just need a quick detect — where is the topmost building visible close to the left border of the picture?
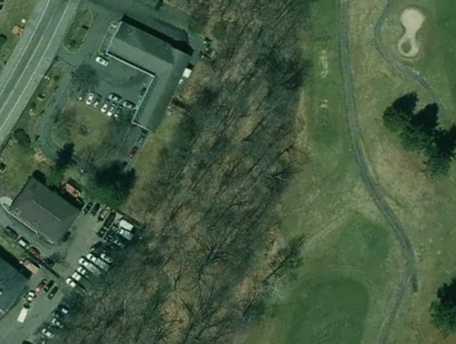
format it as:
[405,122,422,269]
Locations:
[9,176,82,243]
